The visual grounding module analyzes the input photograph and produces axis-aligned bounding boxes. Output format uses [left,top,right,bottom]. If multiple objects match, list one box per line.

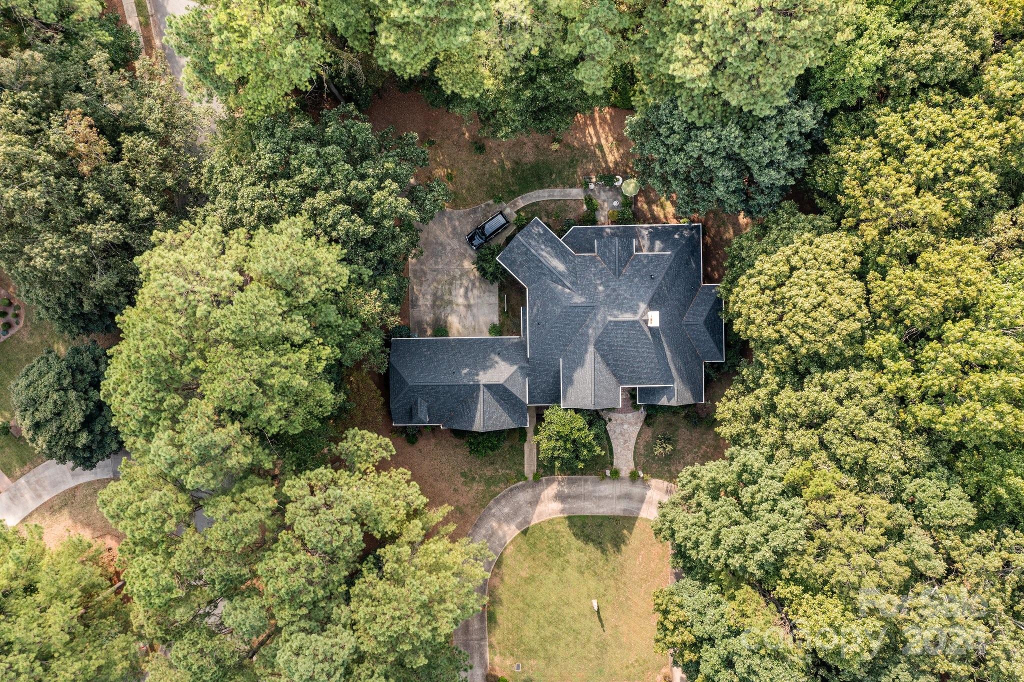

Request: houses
[389,217,725,432]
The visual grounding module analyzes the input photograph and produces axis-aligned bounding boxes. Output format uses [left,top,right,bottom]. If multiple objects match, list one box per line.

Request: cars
[467,212,510,248]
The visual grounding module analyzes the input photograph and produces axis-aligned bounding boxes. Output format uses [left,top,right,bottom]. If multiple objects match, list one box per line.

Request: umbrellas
[621,178,639,196]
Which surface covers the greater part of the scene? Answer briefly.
trees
